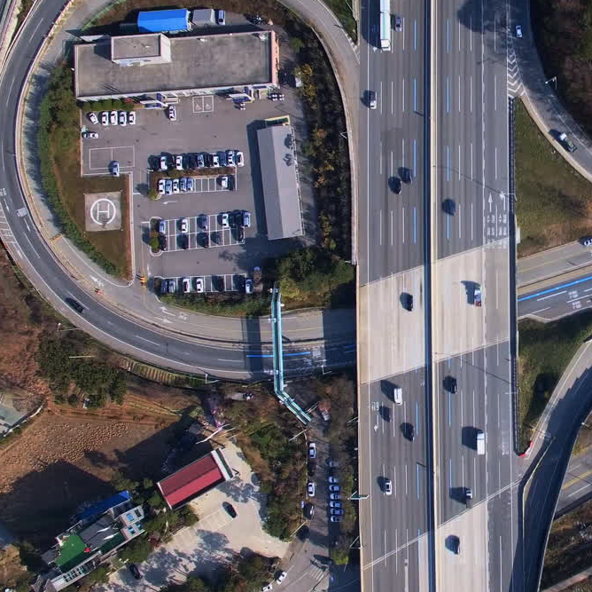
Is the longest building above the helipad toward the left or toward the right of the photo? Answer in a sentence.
The longest building above the helipad appears in the left half of the scene.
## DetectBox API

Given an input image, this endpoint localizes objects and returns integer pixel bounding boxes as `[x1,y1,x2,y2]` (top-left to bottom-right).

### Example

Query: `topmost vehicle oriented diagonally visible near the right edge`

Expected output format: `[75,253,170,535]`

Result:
[560,133,573,150]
